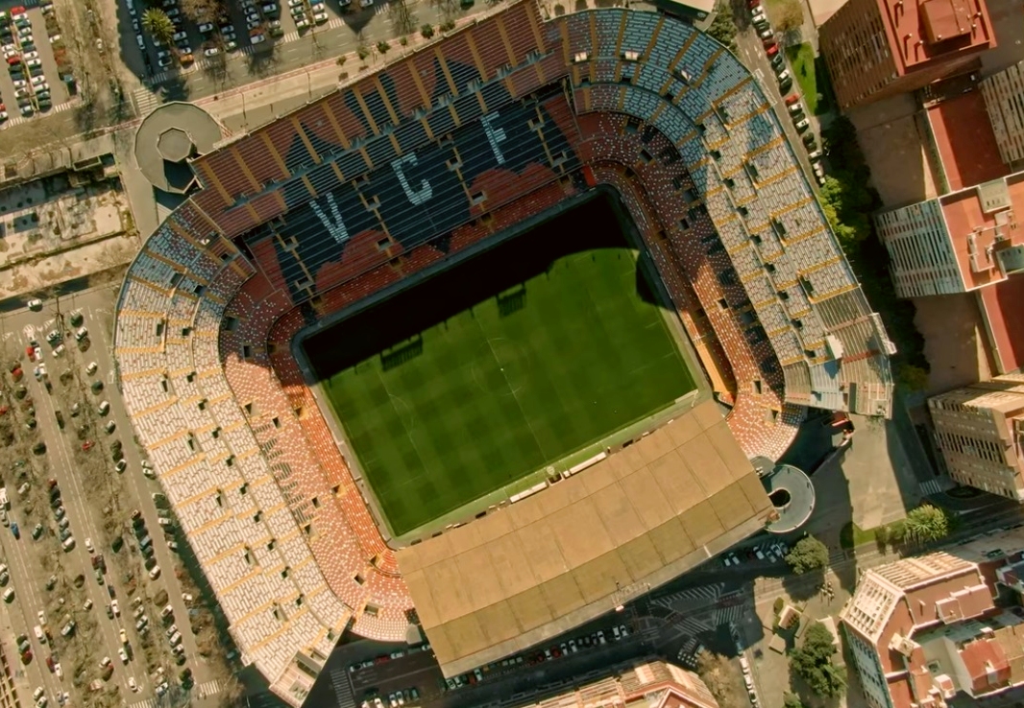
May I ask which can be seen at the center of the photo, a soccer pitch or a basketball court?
soccer pitch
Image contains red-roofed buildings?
Yes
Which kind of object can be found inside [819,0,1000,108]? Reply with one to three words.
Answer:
building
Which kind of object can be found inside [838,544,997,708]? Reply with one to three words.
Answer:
building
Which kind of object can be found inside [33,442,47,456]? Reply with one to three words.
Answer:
car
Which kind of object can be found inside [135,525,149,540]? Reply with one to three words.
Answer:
car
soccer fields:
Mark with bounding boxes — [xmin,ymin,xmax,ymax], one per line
[301,192,699,540]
